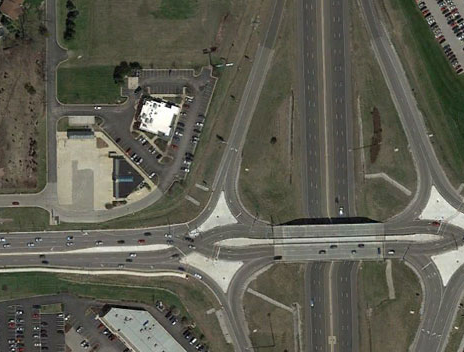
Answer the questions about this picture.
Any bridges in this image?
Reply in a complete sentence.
Yes, looking at the shot, I can spot a bridge.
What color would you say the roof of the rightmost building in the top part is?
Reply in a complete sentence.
The color of the roof on the rightmost building in the top part is white.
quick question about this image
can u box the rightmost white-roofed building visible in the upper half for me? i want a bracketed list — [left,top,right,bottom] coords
[139,99,184,136]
